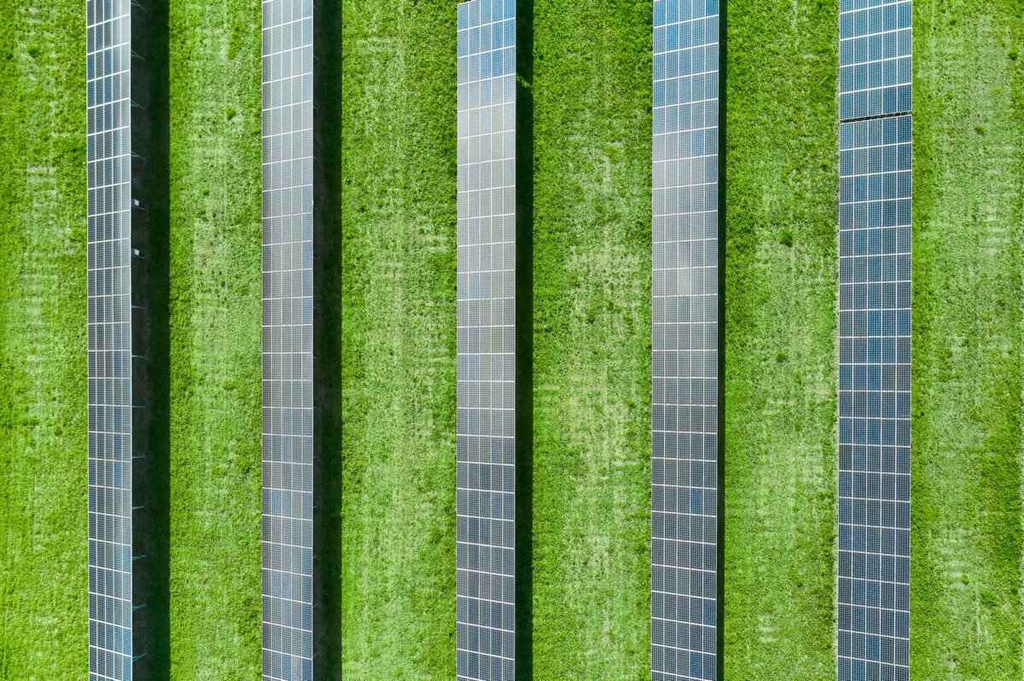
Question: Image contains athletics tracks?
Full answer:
No, the picture doesn't show any athletics track.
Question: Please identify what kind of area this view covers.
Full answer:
The area seen from above is a solar farm.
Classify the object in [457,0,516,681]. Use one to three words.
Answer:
solar array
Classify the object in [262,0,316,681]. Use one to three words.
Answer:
solar array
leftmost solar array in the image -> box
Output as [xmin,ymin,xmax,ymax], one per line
[87,0,145,681]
